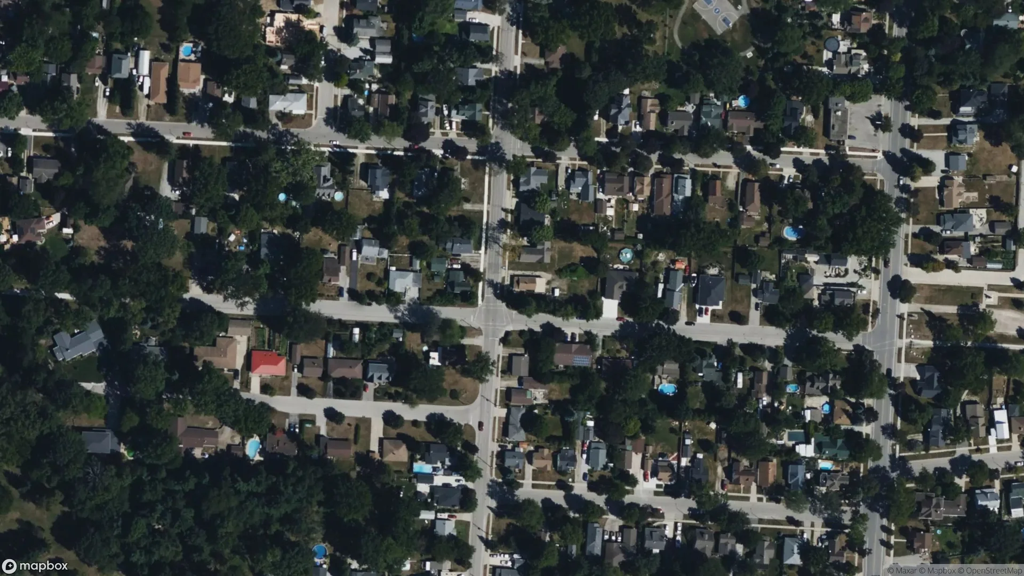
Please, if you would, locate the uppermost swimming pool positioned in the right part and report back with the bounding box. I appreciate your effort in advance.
[824,36,840,52]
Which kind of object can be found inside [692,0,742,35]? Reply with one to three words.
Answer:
basketball court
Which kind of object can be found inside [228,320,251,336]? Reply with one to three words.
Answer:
building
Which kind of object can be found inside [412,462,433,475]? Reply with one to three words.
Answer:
swimming pool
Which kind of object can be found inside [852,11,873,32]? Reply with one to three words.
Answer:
house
